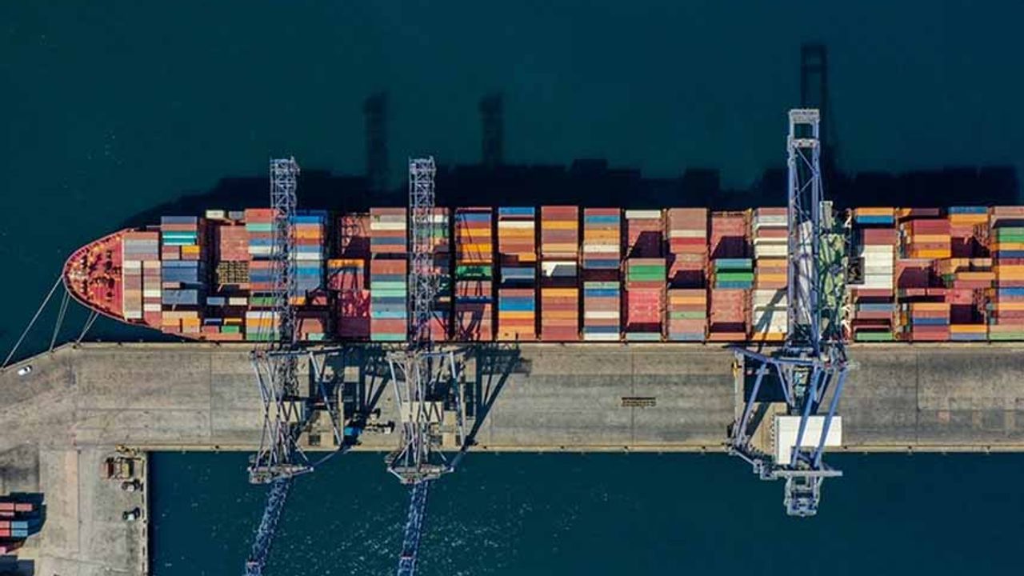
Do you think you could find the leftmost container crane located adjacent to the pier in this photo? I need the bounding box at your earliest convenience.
[244,156,360,576]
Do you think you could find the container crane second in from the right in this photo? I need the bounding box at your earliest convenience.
[386,156,476,576]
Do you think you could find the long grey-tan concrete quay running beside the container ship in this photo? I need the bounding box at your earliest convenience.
[148,344,1024,451]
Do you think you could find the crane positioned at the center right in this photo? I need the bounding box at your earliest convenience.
[717,109,853,516]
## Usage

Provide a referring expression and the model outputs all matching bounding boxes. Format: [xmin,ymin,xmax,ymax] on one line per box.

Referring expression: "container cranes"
[717,109,853,516]
[386,156,476,576]
[244,156,360,576]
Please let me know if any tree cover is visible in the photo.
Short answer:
No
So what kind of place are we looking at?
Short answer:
port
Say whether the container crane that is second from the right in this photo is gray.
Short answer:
Yes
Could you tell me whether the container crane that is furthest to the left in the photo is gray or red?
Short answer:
gray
